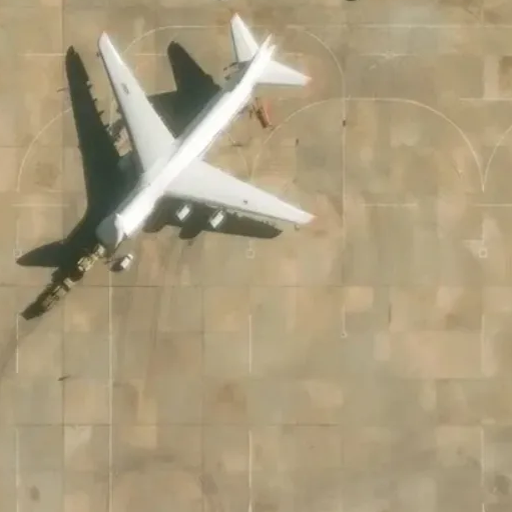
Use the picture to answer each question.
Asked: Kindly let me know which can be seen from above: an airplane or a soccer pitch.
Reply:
airplane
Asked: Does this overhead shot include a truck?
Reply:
Yes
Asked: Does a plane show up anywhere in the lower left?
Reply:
No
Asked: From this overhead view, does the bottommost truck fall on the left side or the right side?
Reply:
left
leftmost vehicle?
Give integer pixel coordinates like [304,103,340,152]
[35,274,74,314]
